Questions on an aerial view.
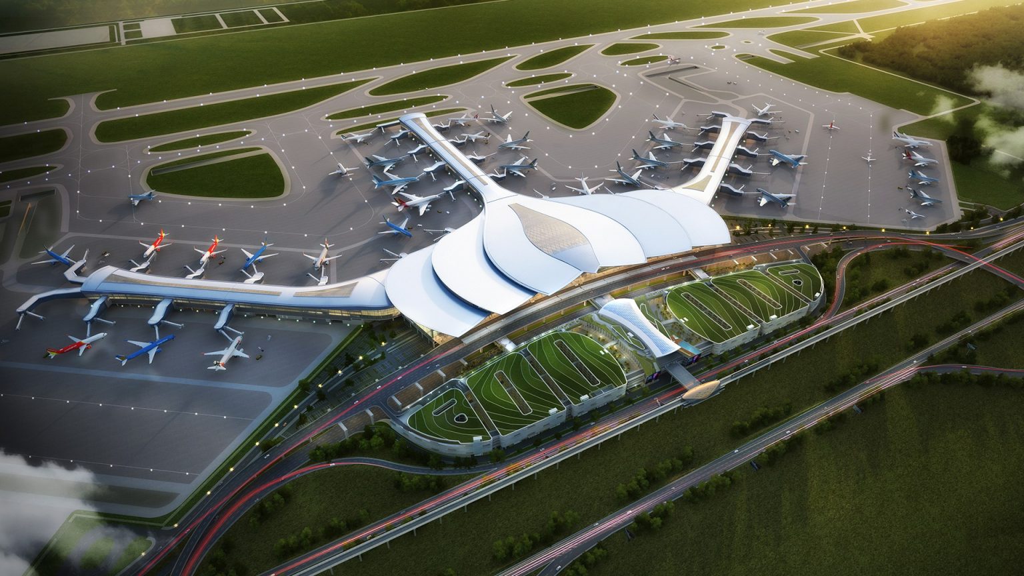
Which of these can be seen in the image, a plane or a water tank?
plane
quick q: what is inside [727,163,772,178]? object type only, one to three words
jet bridge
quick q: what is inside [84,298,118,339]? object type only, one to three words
jet bridge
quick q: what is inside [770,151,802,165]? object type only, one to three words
airplane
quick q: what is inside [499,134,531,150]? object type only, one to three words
airplane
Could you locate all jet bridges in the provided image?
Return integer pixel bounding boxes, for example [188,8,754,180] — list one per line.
[398,144,431,163]
[735,146,774,159]
[532,188,548,198]
[486,167,506,182]
[696,111,730,120]
[743,131,781,144]
[748,116,787,127]
[215,306,246,344]
[238,261,267,285]
[727,163,772,178]
[447,134,468,147]
[719,183,763,198]
[432,119,451,132]
[638,179,669,190]
[415,161,448,182]
[680,141,716,153]
[151,301,186,342]
[467,150,498,164]
[127,250,158,275]
[62,247,90,286]
[684,125,722,136]
[379,247,405,263]
[84,298,118,339]
[305,264,330,286]
[435,180,467,203]
[368,121,401,134]
[15,288,85,331]
[383,130,414,147]
[182,257,210,281]
[666,157,707,172]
